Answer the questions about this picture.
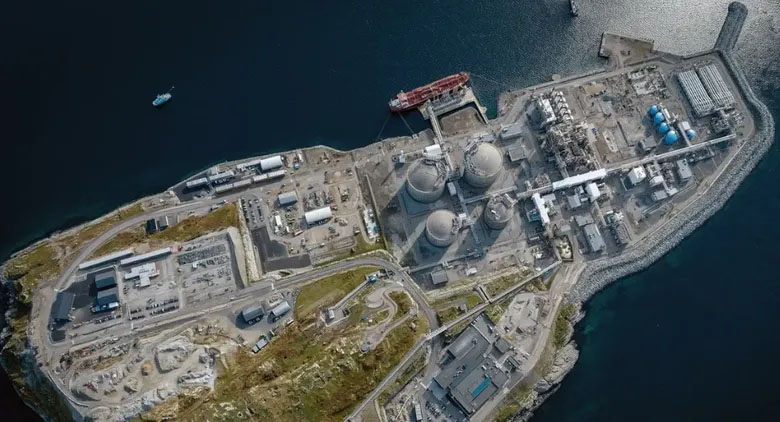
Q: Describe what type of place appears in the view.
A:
port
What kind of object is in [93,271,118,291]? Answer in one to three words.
building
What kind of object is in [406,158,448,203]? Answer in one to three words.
storage tank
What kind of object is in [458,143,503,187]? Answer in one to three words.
storage tank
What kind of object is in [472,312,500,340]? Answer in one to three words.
building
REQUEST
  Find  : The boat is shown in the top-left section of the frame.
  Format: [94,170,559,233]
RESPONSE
[152,87,174,105]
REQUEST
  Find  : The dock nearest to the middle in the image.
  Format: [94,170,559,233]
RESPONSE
[417,88,487,124]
